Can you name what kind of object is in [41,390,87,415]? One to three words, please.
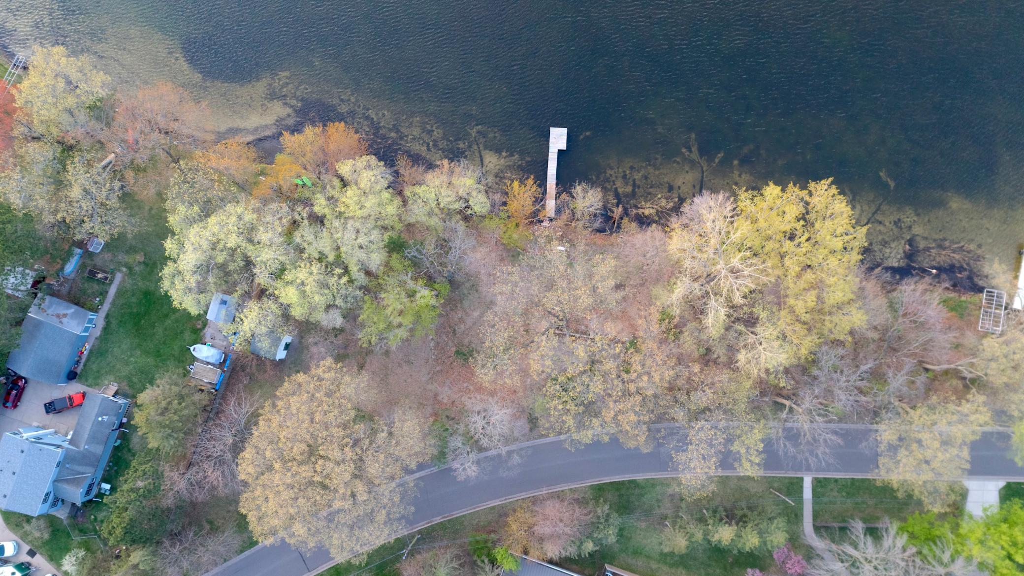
truck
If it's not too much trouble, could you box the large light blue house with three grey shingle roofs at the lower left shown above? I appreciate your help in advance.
[0,394,136,517]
